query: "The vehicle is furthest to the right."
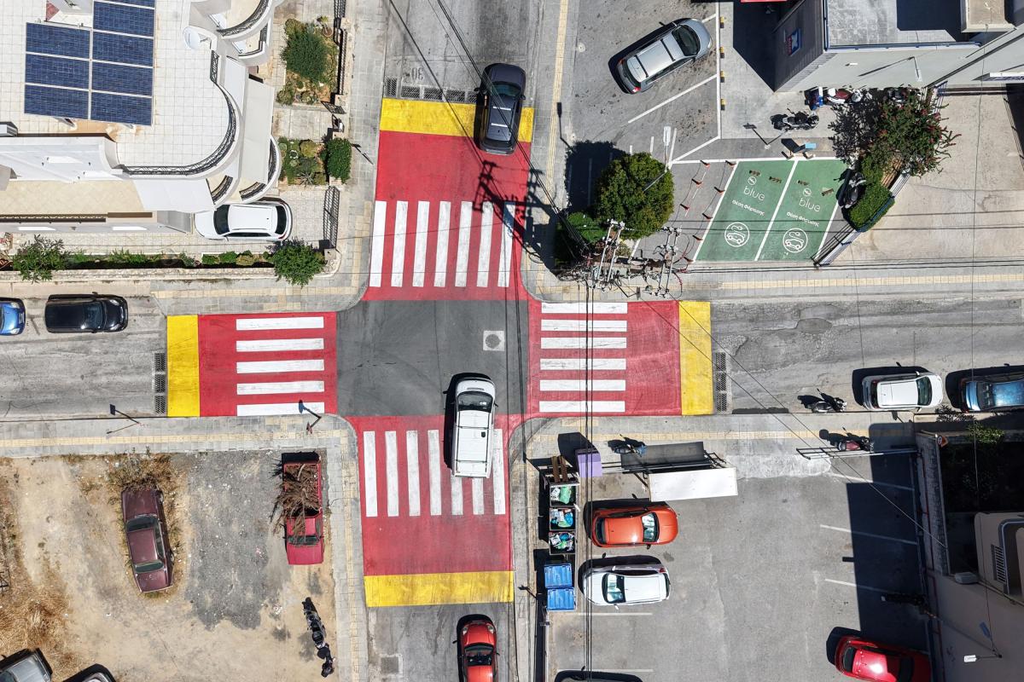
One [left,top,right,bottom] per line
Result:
[955,373,1024,412]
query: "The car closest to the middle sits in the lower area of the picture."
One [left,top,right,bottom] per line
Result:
[449,376,500,479]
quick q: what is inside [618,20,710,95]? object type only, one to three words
car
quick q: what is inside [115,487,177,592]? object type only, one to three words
car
